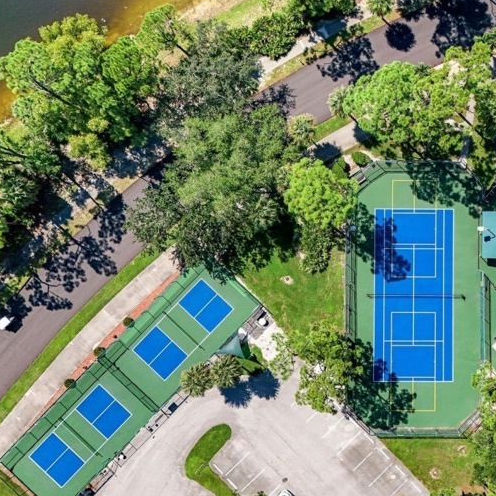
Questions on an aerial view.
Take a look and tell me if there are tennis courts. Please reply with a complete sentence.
Yes, there's a tennis court down there.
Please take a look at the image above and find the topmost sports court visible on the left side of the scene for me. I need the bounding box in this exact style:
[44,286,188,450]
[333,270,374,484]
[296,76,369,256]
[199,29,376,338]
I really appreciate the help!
[104,253,259,409]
